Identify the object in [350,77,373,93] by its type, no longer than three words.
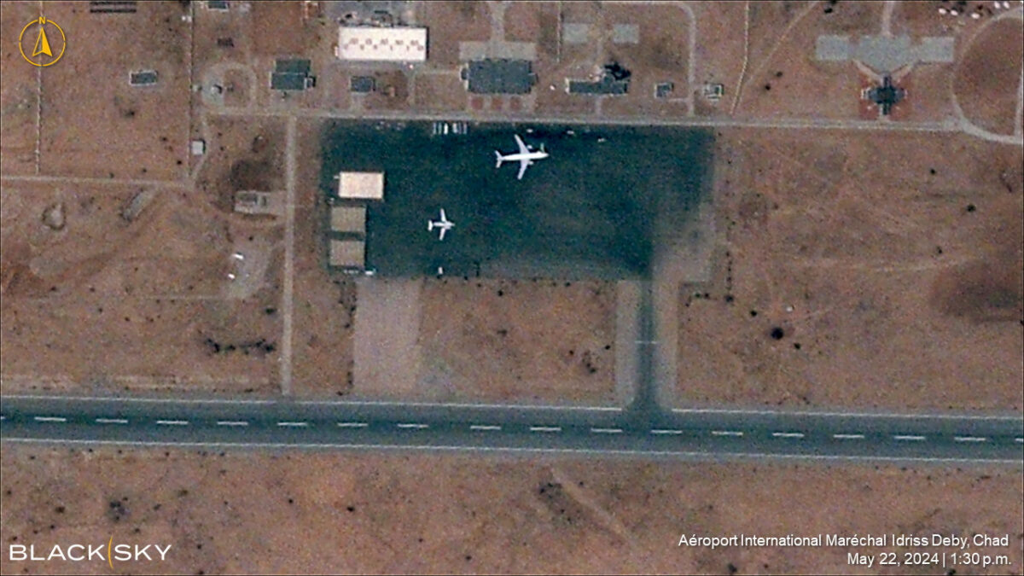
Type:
house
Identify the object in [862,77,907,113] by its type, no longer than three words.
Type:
building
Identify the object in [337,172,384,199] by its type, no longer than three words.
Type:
hangar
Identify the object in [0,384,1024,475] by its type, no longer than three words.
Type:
runway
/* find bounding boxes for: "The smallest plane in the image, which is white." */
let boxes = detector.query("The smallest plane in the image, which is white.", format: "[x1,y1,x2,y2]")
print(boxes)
[429,210,455,240]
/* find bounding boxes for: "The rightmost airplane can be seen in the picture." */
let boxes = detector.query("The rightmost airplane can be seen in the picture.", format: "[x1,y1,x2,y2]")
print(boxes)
[497,136,549,180]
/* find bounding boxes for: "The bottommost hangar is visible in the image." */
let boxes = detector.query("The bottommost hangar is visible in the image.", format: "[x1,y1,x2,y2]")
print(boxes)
[329,240,366,267]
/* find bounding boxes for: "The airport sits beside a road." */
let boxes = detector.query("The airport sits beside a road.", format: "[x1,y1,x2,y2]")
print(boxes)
[0,122,1024,475]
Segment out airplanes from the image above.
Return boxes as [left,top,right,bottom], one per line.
[429,210,455,240]
[497,136,549,180]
